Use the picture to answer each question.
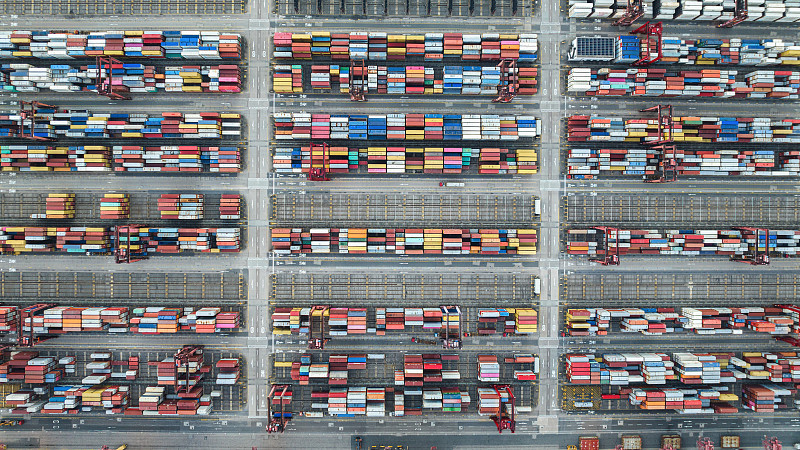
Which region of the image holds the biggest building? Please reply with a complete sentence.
The biggest building is located in the top right region of the scene.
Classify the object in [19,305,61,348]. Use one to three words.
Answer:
container crane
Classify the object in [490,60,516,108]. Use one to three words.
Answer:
container crane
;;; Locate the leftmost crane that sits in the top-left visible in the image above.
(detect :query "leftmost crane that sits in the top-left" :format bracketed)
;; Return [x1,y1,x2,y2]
[20,101,62,143]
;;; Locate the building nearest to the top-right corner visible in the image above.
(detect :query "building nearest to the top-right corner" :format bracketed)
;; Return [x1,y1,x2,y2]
[567,36,614,65]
